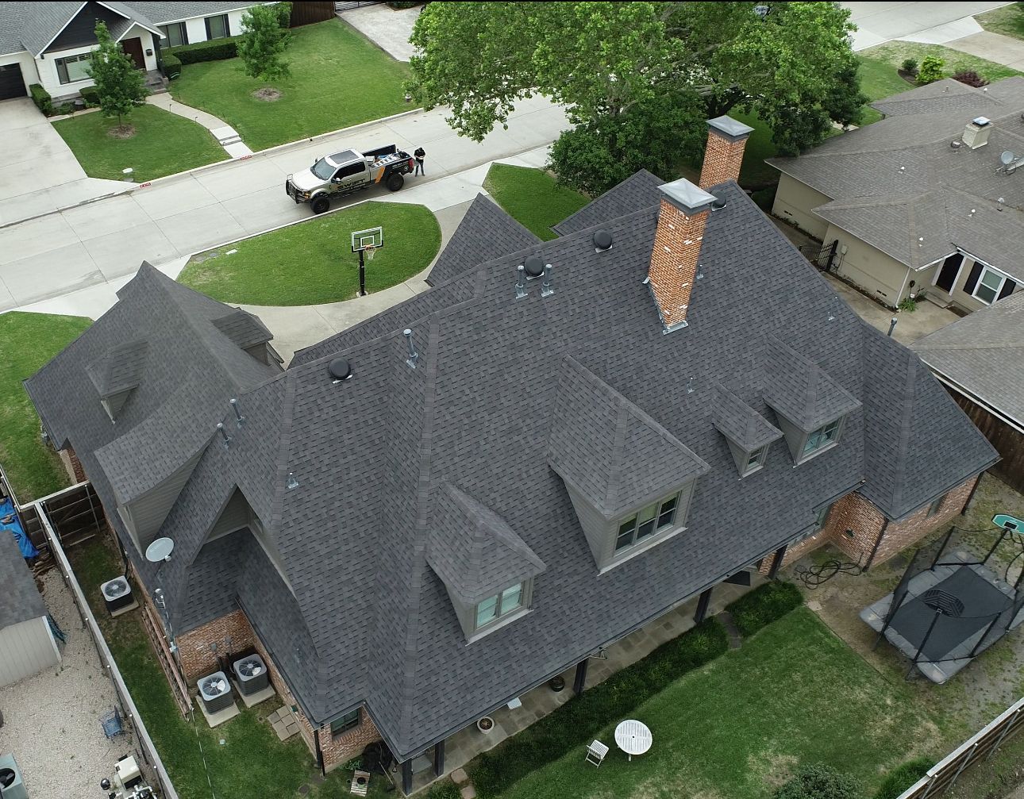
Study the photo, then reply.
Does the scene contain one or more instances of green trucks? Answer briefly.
No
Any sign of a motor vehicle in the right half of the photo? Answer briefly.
No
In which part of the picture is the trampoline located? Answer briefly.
bottom right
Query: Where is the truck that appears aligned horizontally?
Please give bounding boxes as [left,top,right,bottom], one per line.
[277,143,413,210]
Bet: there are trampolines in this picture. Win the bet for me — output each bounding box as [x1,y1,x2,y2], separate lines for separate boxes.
[859,523,1024,687]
